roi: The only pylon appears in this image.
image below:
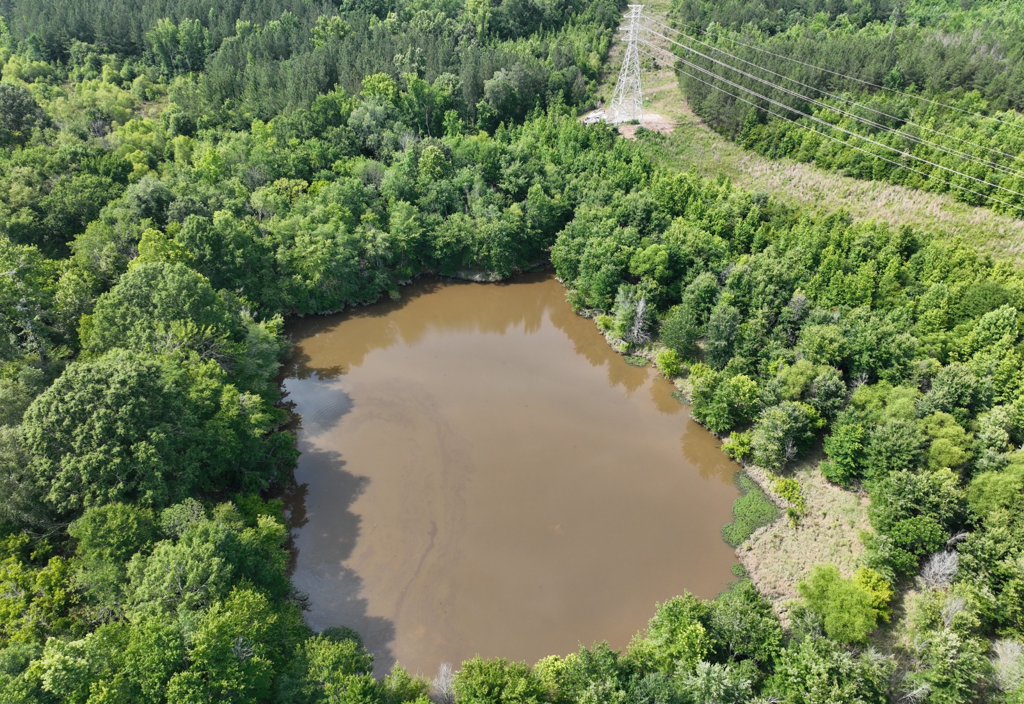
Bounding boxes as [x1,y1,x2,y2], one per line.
[605,5,655,126]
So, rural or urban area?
rural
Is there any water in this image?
Yes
